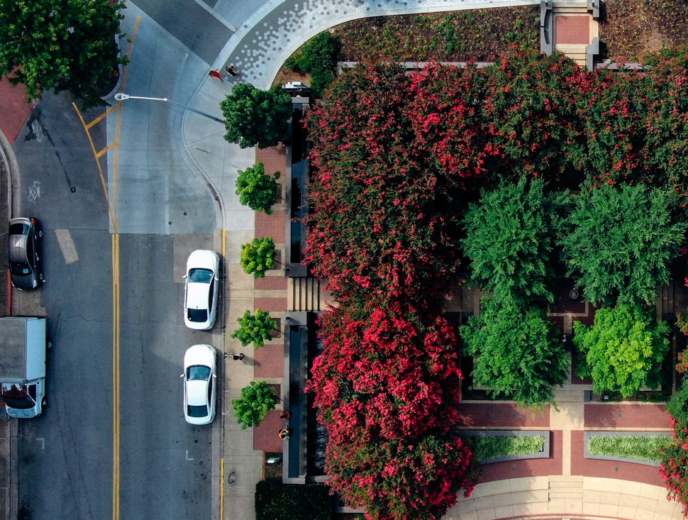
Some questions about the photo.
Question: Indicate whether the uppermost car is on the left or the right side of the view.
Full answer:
The uppermost car sits on the left side.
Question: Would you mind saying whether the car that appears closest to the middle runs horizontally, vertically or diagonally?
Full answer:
In this picture, the car that appears closest to the middle is oriented vertically.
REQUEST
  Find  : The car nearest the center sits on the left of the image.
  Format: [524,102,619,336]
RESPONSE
[177,249,218,329]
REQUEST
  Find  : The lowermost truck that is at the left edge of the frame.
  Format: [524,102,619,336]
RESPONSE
[0,310,55,418]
